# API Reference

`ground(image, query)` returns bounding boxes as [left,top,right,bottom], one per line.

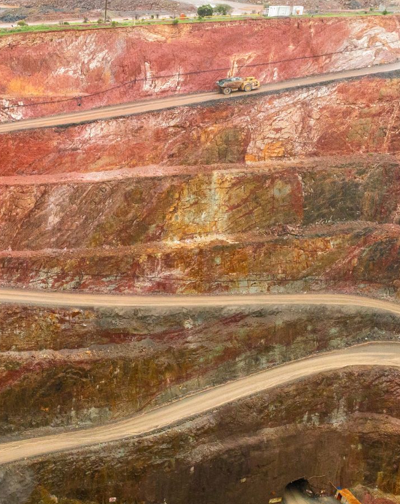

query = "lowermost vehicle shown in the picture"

[219,74,265,93]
